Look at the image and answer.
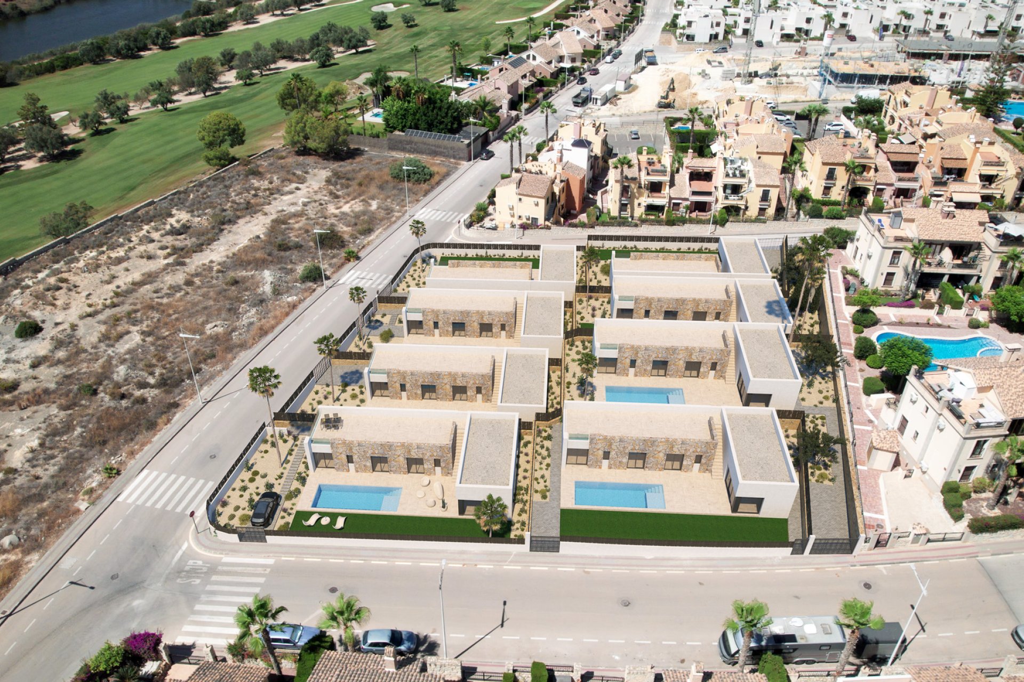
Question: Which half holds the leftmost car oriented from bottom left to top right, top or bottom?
bottom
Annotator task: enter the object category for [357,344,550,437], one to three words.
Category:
house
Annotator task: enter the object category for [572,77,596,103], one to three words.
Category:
truck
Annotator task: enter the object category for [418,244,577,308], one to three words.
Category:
house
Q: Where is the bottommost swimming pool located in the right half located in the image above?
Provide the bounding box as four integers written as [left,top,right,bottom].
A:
[572,478,669,511]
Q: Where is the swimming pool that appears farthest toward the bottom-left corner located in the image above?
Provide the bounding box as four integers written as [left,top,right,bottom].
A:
[304,482,404,514]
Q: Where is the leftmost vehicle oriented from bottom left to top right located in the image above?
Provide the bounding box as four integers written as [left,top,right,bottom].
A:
[245,486,283,527]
